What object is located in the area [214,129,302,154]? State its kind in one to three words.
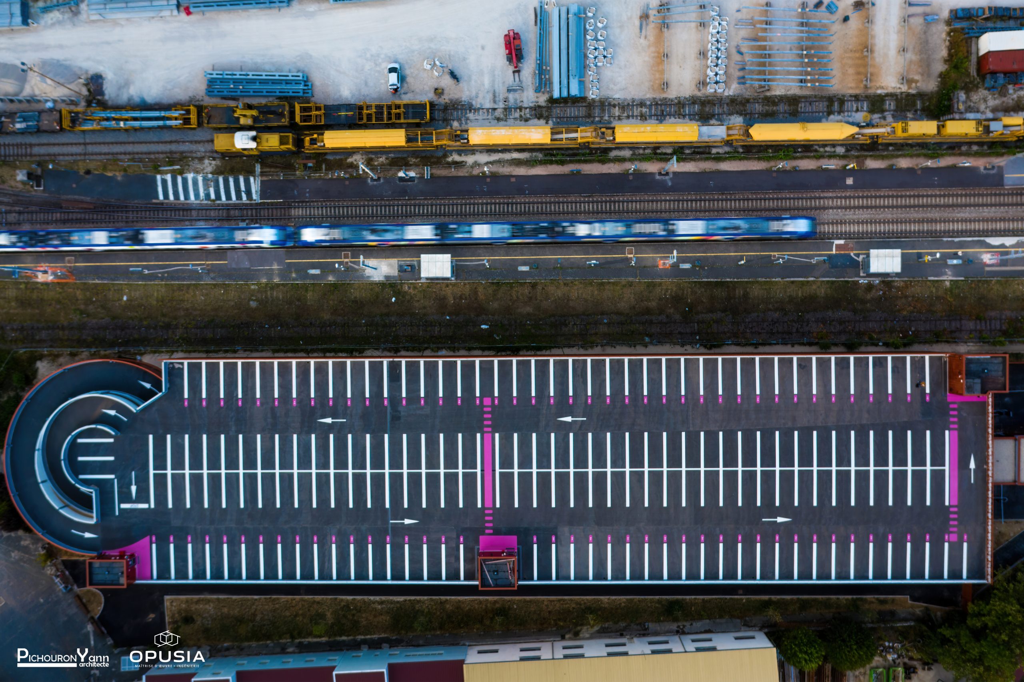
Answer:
rail car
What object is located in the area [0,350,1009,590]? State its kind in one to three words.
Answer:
building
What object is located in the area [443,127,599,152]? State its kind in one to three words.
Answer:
rail car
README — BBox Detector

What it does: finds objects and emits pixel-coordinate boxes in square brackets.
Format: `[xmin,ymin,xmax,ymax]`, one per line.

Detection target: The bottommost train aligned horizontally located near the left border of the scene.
[0,223,298,251]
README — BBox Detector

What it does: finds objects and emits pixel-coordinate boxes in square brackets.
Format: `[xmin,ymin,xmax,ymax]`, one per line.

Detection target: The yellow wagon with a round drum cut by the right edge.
[999,119,1024,144]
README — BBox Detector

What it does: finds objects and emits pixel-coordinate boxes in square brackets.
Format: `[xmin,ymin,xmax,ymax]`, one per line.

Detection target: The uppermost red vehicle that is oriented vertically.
[503,26,524,83]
